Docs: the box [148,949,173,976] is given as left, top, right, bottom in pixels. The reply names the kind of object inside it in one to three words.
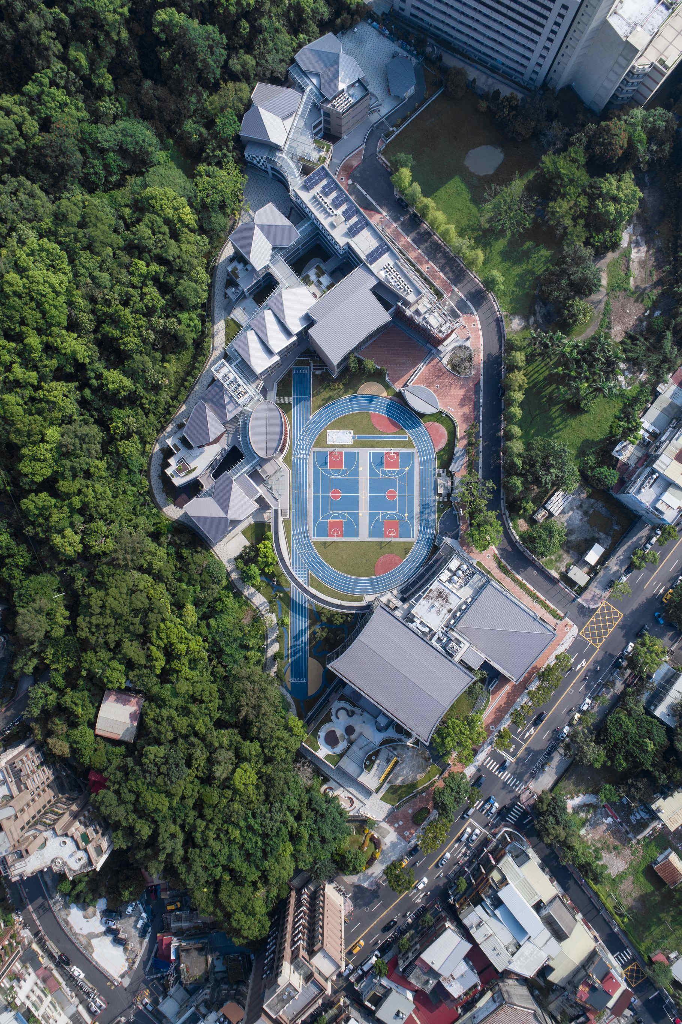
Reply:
house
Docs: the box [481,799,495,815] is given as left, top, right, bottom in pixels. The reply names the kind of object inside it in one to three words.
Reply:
vehicle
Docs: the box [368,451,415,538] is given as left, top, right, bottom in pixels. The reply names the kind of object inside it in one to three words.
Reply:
basketball court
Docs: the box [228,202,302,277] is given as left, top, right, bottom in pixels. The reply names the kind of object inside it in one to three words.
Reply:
building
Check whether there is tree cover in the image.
Yes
